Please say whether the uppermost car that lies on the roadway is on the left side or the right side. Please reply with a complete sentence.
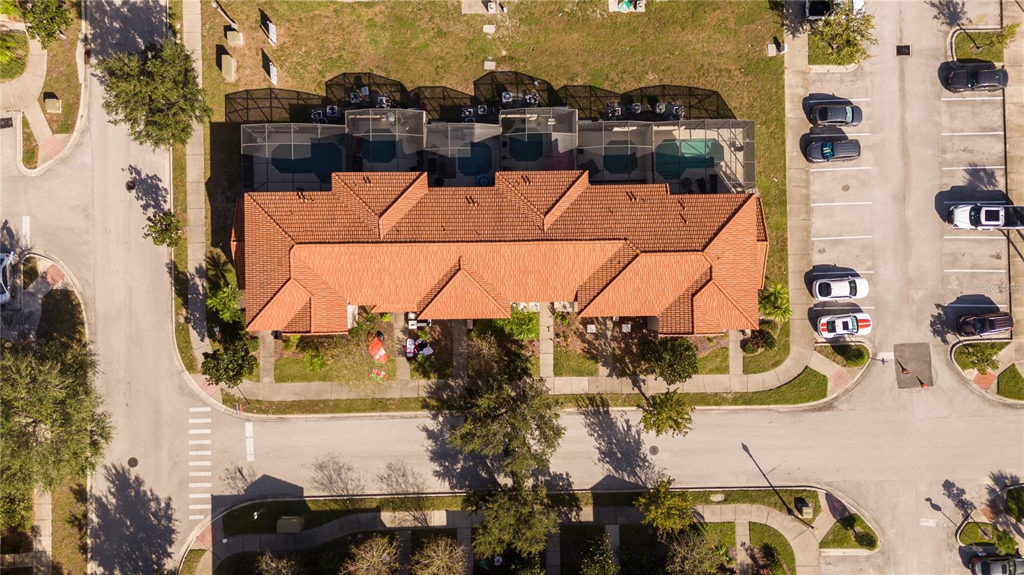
The uppermost car that lies on the roadway is on the right side of the image.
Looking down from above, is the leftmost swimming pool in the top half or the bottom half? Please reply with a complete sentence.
You can find the leftmost swimming pool in the top half.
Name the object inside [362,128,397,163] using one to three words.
swimming pool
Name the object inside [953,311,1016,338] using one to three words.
car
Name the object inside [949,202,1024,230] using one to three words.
truck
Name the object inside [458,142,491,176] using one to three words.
swimming pool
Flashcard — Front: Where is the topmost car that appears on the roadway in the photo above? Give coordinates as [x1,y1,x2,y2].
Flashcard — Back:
[945,67,1005,94]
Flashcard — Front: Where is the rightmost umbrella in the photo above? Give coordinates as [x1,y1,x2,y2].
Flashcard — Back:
[472,170,493,187]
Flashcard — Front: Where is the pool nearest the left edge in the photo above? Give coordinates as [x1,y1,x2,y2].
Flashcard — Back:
[270,143,342,185]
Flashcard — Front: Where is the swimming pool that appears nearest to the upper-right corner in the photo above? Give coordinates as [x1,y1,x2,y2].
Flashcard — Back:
[654,138,725,180]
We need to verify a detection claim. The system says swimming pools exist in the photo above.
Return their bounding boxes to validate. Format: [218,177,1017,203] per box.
[362,128,397,163]
[458,142,491,176]
[509,127,543,162]
[654,138,725,180]
[604,140,638,174]
[270,143,342,185]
